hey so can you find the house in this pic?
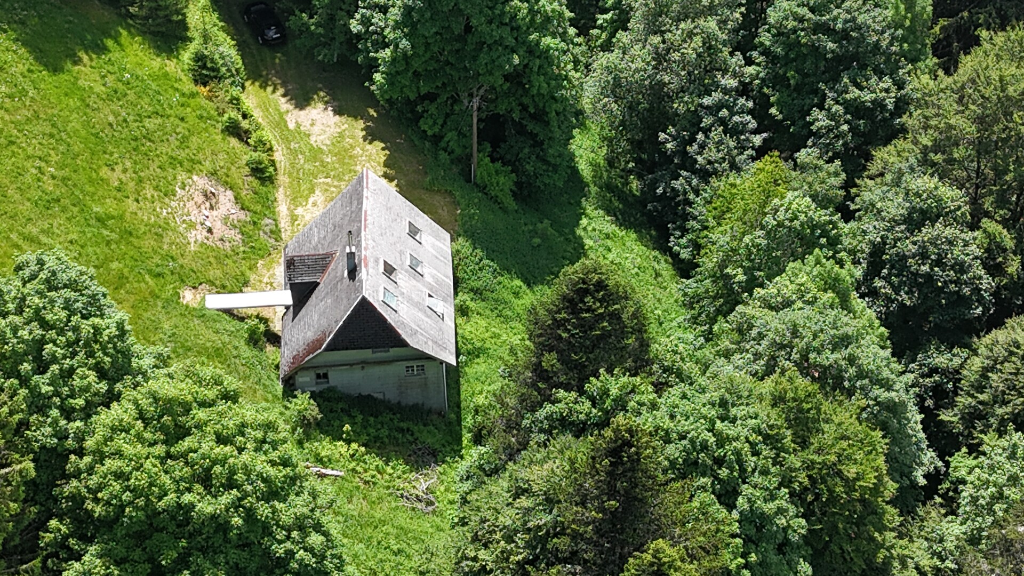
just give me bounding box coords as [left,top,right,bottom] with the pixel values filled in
[278,169,458,412]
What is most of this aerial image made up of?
trees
